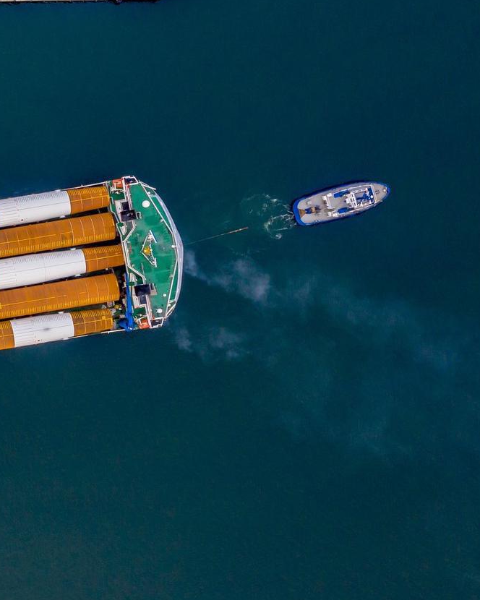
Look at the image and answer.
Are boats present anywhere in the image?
Yes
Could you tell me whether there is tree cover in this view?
No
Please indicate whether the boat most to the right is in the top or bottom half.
top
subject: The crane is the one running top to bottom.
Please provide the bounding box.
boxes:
[117,272,133,332]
